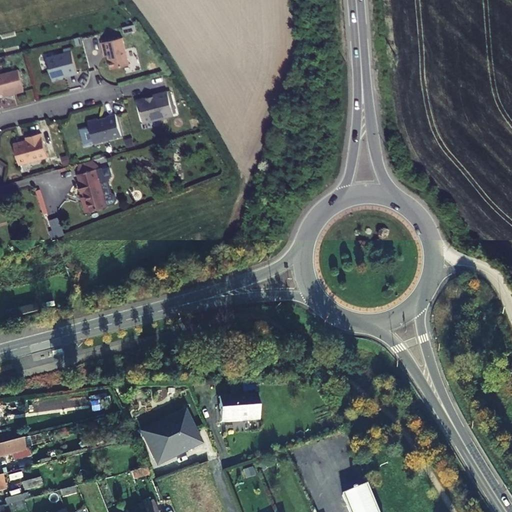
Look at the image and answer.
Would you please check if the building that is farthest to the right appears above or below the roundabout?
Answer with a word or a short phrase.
below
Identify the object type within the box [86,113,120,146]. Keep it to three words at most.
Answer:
house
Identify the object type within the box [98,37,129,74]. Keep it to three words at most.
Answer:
house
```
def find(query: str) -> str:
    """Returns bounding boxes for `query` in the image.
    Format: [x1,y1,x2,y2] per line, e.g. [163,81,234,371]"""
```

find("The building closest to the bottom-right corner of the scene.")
[344,482,382,512]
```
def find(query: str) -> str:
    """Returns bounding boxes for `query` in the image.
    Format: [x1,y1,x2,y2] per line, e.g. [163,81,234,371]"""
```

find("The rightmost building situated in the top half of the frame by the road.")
[135,91,172,124]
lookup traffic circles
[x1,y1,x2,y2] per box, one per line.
[292,182,445,335]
